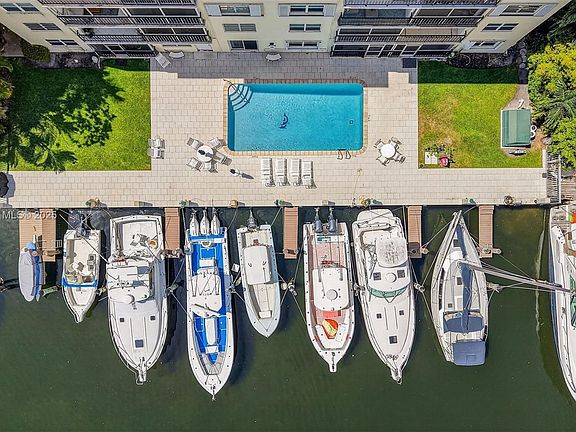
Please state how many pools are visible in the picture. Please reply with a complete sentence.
In total, there is 1 pool in the scene.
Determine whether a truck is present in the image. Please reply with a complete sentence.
No, the photo shows no truck.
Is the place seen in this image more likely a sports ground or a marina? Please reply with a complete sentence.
The picture captures a marina.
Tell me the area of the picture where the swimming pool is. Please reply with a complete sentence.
The swimming pool is in the top part of the image.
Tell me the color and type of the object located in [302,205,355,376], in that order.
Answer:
white boat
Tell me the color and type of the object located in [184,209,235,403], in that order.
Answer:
white boat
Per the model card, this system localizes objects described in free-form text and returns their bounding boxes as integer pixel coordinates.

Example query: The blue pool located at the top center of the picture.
[223,78,368,156]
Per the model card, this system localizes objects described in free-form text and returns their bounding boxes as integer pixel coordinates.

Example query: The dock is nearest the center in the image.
[283,207,298,259]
